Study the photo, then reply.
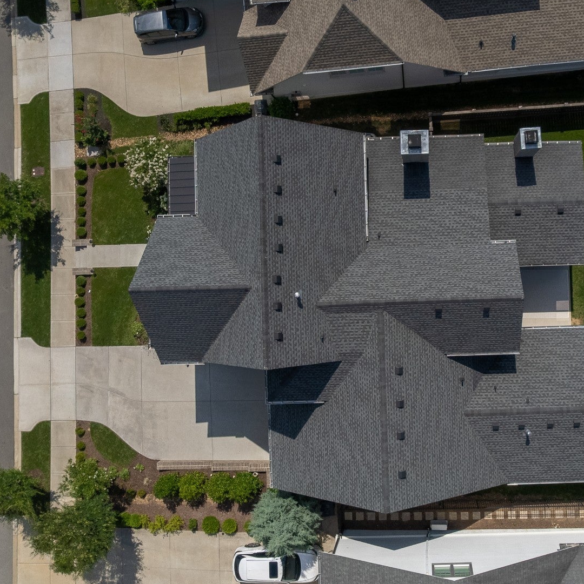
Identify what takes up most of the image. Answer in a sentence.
Most of the picture is covered by buildings.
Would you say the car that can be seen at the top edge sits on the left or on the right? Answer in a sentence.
It is on the left.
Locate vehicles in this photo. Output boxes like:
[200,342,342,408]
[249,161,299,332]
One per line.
[235,543,317,584]
[132,5,205,47]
